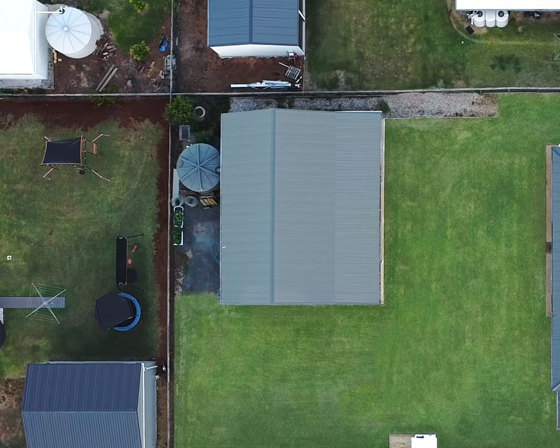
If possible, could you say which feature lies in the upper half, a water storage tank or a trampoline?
water storage tank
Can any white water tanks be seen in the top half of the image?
Yes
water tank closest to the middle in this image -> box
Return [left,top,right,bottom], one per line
[176,145,220,193]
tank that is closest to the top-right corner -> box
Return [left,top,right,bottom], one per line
[467,11,509,29]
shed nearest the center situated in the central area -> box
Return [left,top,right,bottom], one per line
[220,108,383,304]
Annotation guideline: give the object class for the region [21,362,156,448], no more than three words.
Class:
shed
